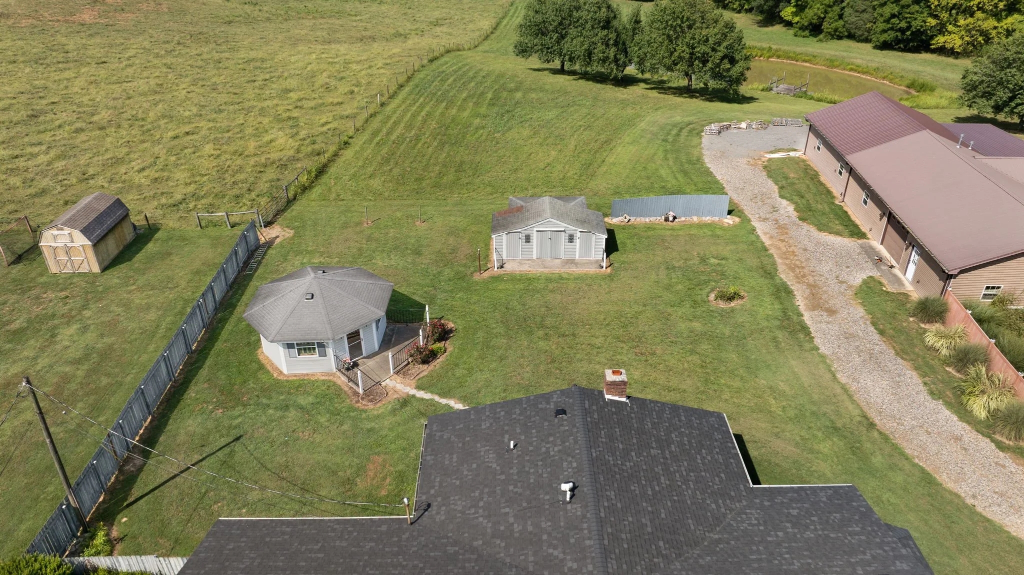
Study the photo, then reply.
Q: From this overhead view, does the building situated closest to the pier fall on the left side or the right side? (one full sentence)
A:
You can find the building situated closest to the pier on the right side of the picture.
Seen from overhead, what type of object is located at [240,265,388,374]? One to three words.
house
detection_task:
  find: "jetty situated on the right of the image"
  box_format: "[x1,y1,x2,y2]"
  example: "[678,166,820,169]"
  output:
[770,69,812,97]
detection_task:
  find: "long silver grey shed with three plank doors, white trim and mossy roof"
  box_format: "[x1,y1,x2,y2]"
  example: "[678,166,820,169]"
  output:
[491,196,607,259]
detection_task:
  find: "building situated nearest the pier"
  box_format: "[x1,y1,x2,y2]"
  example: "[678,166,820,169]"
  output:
[803,90,1024,316]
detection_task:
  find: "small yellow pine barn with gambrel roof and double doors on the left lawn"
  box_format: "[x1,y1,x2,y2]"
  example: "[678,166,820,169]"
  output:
[37,190,133,273]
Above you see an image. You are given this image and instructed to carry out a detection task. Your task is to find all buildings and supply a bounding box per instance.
[182,368,932,575]
[37,190,133,273]
[803,90,1024,316]
[240,265,388,374]
[491,196,607,259]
